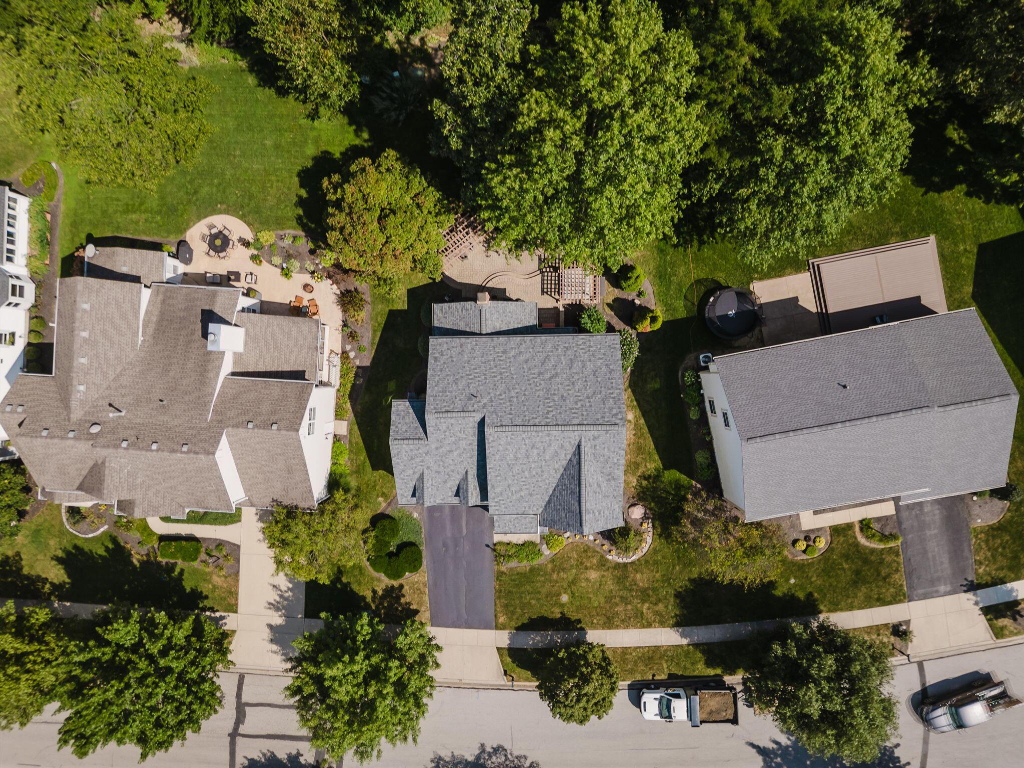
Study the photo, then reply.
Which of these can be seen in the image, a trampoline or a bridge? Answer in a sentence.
Looking from above, you can make out a trampoline.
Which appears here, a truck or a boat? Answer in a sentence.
There is a truck in the scene.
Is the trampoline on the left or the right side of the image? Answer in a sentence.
The trampoline is on the right side of the image.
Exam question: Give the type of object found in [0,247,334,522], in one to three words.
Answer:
house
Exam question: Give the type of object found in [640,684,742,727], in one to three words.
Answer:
truck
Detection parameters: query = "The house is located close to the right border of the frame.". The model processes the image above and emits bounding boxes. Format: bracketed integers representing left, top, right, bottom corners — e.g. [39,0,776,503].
[693,307,1018,522]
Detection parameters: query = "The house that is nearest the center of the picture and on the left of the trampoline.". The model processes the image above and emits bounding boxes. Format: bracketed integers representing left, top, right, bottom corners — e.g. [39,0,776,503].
[391,289,627,534]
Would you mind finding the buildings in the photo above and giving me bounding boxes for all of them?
[391,289,627,534]
[693,307,1018,522]
[0,247,334,522]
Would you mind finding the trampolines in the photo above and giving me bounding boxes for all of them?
[704,284,763,340]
